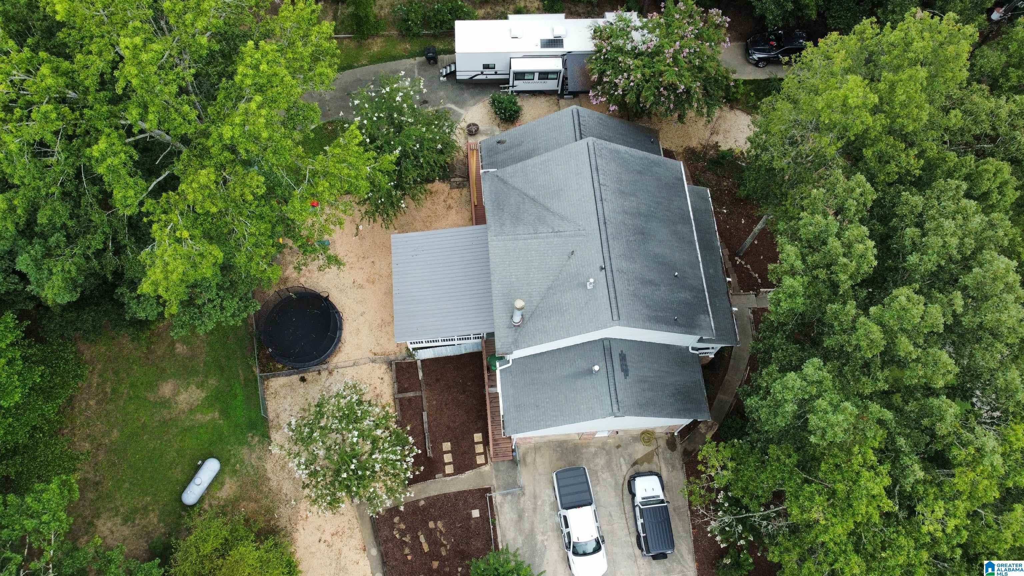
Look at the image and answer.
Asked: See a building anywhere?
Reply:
Yes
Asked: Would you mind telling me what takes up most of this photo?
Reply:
trees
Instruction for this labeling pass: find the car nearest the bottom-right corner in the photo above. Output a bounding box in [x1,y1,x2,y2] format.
[628,470,674,556]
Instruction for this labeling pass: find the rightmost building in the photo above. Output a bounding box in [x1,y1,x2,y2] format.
[476,106,743,454]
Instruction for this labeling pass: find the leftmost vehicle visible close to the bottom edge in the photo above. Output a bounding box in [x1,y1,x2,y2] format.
[549,465,610,576]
